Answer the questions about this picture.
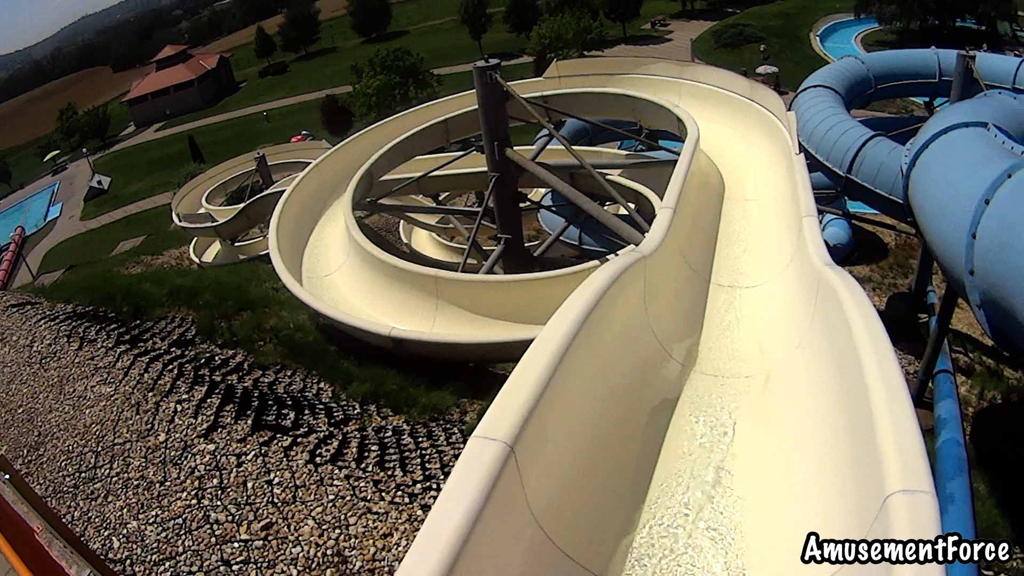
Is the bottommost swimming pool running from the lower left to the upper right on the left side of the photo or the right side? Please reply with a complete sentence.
The bottommost swimming pool running from the lower left to the upper right is on the left side of the image.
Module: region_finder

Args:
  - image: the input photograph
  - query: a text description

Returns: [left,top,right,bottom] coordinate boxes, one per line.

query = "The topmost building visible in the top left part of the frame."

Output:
[111,34,240,128]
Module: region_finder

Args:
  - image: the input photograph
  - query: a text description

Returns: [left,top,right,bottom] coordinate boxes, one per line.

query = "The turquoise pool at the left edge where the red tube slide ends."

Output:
[0,179,62,245]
